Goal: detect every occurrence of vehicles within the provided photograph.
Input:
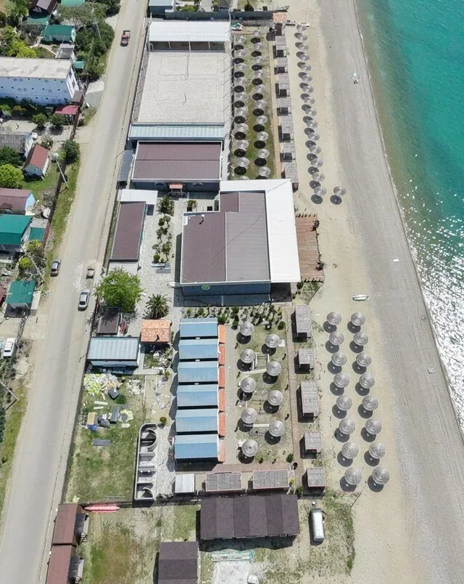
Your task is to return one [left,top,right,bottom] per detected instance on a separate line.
[79,288,90,310]
[121,31,128,46]
[311,509,326,542]
[1,338,14,358]
[49,259,62,275]
[84,267,95,279]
